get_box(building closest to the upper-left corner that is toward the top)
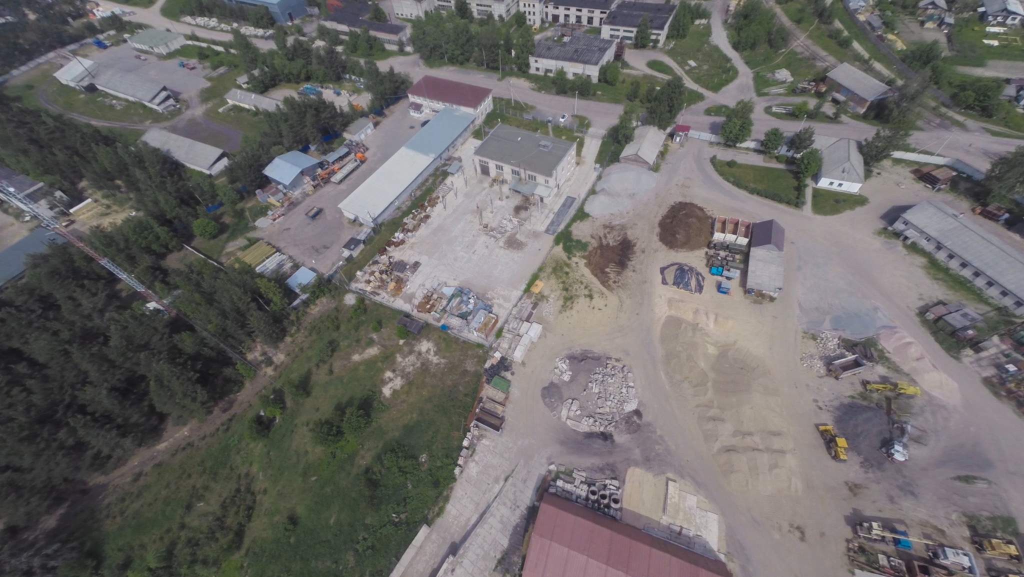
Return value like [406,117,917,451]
[55,48,128,80]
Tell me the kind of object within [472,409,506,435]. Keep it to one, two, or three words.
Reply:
shipping container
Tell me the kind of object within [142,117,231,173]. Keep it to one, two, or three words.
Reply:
hangar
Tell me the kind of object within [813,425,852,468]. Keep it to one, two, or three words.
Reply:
work vehicle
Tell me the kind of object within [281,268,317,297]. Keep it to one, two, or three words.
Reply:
shed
